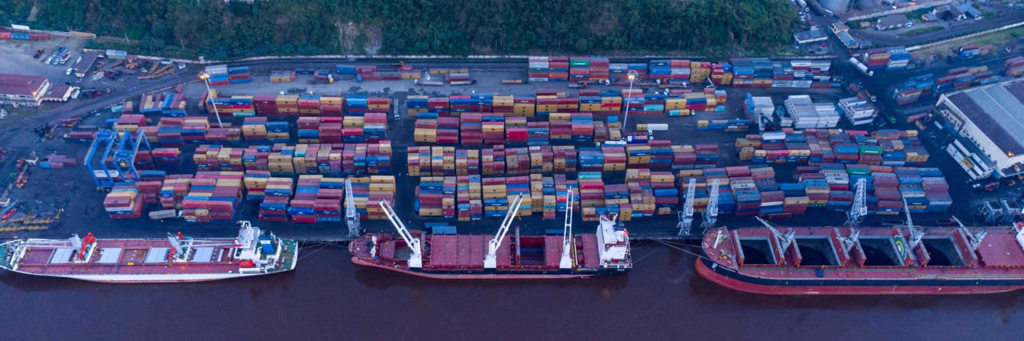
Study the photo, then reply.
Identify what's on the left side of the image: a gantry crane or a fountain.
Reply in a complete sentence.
It is a gantry crane that can be seen on the left side of the image.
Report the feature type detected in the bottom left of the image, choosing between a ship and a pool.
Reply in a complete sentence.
It is a ship that can be seen in the bottom left of the image.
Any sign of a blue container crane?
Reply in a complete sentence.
Yes, I can see a blue container crane in this picture.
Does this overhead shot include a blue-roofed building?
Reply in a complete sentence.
Yes, there's a blue-roofed building down there.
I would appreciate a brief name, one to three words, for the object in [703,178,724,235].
container crane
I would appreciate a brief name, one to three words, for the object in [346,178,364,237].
container crane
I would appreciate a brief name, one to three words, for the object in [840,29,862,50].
shed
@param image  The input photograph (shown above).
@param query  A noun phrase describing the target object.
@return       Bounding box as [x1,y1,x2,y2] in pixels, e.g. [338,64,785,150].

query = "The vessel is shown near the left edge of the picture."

[0,218,297,283]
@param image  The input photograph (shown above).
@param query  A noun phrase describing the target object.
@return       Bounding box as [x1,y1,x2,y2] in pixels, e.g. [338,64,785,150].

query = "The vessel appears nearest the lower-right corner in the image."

[697,197,1024,295]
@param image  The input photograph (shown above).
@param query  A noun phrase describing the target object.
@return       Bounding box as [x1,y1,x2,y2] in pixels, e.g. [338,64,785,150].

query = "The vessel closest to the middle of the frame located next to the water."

[349,186,637,279]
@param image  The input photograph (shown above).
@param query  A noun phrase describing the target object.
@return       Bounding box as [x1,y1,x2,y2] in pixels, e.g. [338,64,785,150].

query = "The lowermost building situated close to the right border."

[935,76,1024,179]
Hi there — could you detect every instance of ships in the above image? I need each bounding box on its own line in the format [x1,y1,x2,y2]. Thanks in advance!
[697,197,1024,295]
[349,186,637,279]
[0,218,297,283]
